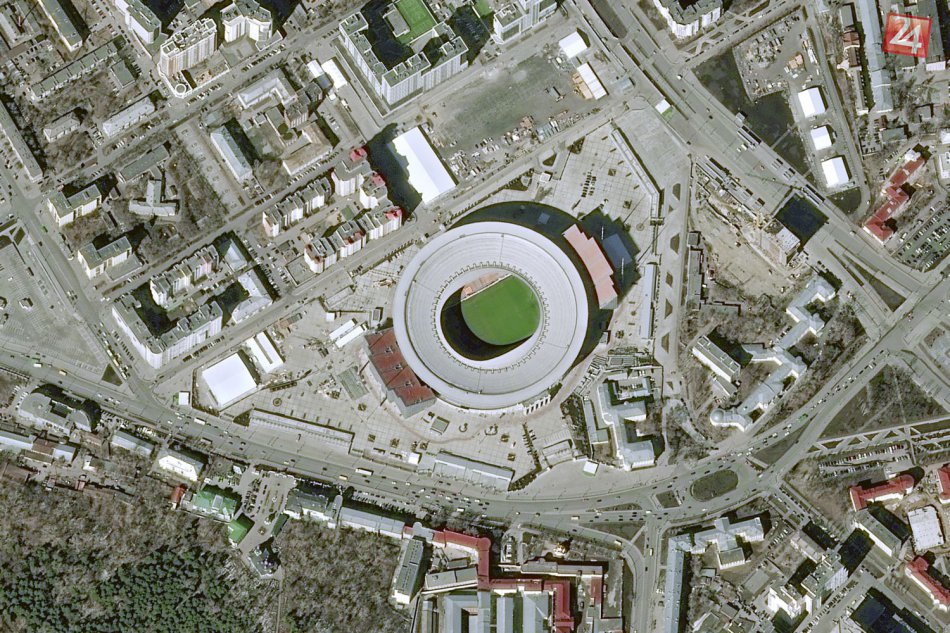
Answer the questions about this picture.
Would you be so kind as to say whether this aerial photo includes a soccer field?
Yes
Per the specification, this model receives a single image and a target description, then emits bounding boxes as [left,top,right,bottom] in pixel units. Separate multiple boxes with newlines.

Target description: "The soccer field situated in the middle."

[443,278,539,359]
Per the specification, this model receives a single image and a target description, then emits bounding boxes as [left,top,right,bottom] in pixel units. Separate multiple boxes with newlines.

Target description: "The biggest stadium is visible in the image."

[392,222,588,420]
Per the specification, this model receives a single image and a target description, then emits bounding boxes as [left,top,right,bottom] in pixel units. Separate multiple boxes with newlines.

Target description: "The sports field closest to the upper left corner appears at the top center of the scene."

[392,0,436,45]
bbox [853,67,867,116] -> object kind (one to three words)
building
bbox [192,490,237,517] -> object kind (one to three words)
house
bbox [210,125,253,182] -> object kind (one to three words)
building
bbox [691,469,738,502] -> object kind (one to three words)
roundabout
